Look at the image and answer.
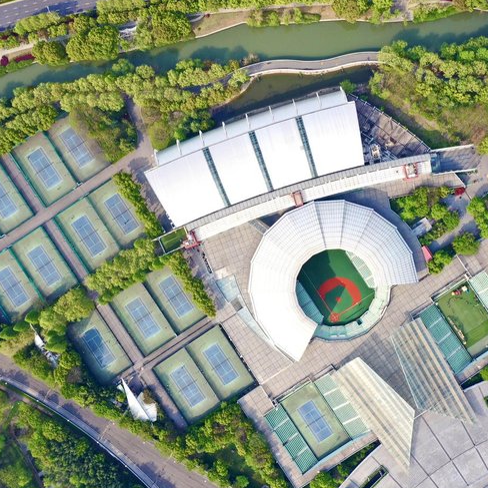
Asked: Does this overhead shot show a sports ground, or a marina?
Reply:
sports ground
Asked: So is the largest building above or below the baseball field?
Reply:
above it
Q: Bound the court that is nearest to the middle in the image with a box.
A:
[144,262,207,334]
